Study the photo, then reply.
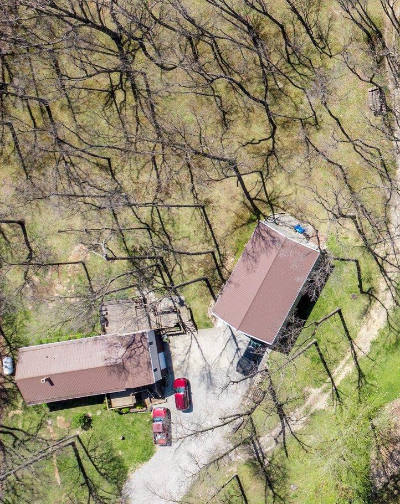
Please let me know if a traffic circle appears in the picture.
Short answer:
No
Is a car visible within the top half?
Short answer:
No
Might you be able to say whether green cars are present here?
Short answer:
No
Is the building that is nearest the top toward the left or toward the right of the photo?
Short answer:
right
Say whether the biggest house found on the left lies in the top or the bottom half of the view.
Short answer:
bottom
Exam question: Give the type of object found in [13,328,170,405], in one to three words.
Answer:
house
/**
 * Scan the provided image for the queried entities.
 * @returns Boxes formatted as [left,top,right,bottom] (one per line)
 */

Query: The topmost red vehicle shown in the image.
[172,377,191,411]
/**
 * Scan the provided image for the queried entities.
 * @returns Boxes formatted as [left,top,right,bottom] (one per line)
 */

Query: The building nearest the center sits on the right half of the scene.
[212,220,324,344]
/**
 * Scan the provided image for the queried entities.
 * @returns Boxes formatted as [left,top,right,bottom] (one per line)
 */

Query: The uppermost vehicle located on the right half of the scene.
[237,339,263,372]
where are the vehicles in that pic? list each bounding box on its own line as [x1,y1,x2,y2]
[237,339,263,372]
[153,407,171,448]
[172,377,191,411]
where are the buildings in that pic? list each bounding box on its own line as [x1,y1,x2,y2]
[13,328,170,405]
[212,220,324,344]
